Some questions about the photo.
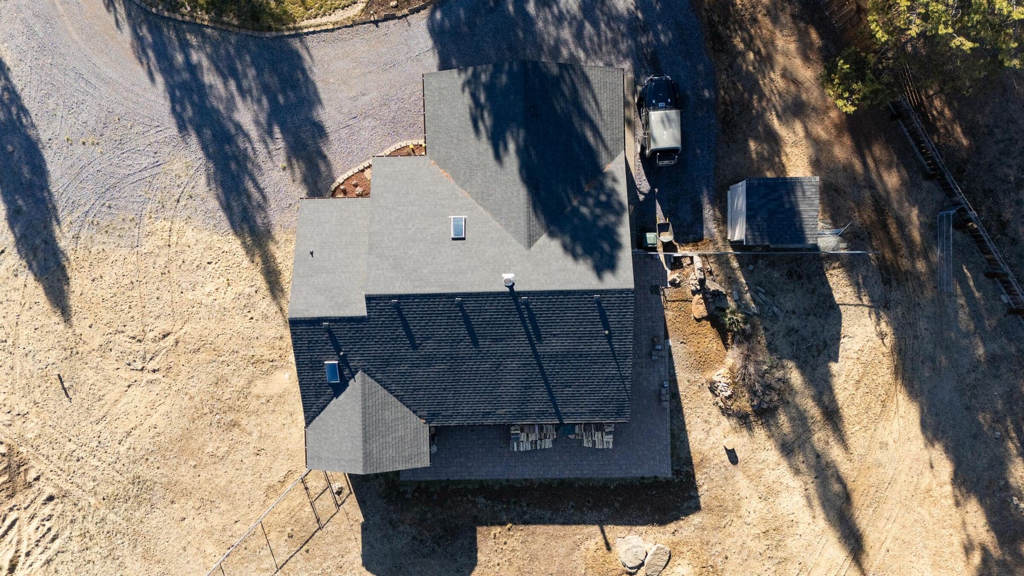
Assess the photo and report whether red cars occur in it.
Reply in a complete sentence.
No, no red car is visible in the scene.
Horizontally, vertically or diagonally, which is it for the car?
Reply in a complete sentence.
The car has been laid out vertically relative to the frame.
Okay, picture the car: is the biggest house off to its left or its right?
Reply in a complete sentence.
Relative to the car, the biggest house lies to the left.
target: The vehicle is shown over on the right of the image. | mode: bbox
[636,71,683,164]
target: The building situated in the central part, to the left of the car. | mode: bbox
[288,58,636,475]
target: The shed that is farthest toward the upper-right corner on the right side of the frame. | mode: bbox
[726,178,821,248]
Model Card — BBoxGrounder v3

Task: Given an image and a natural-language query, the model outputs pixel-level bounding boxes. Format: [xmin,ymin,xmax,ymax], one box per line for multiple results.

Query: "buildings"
[726,178,821,248]
[288,58,636,475]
